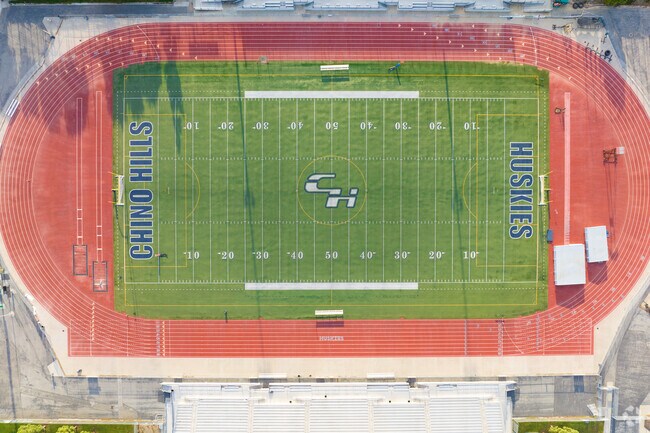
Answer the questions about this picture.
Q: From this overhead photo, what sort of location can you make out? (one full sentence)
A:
The area seen from above is a sports ground.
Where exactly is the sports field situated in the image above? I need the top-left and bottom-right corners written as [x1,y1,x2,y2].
[114,60,548,319]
